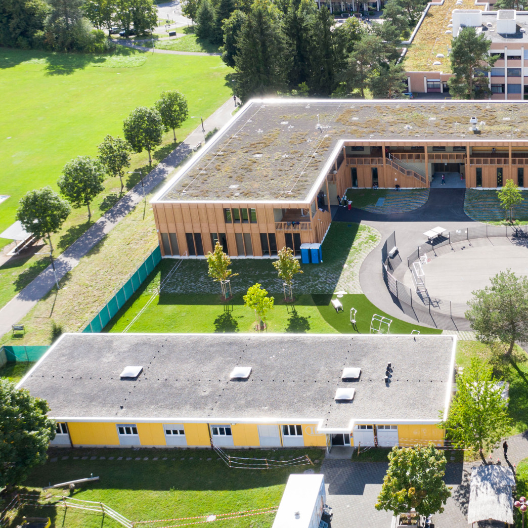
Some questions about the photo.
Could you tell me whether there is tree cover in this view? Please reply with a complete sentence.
Yes, there's tree cover in this view.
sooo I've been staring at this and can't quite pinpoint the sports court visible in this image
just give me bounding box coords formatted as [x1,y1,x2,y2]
[403,237,528,318]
